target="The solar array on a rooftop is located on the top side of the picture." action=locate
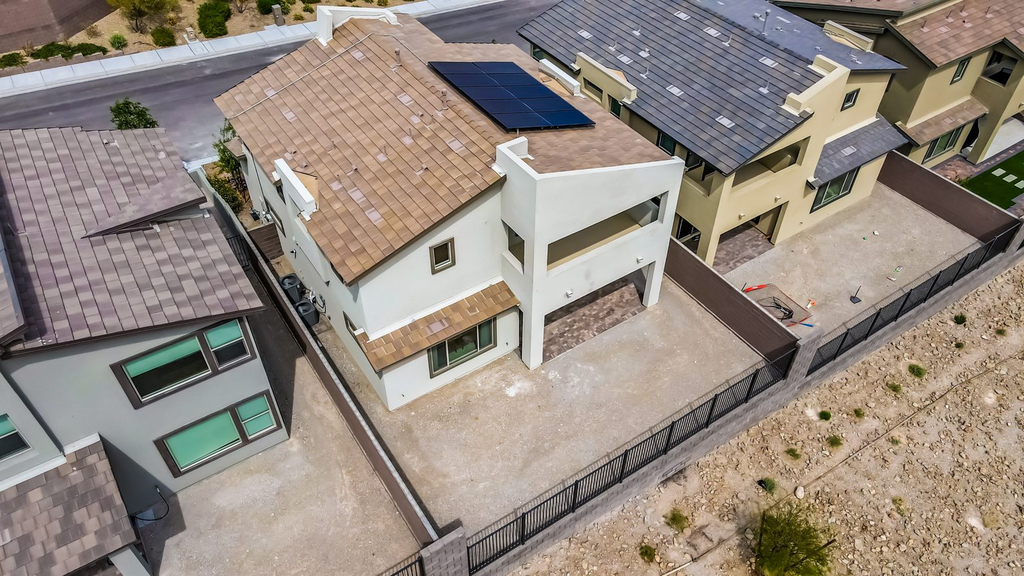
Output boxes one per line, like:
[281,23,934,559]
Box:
[427,62,595,136]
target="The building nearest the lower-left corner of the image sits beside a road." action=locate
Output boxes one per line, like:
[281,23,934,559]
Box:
[0,126,288,576]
